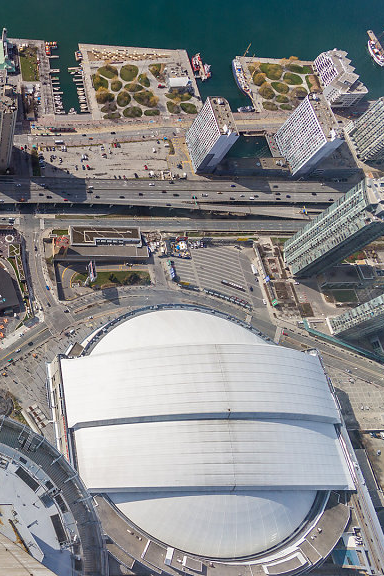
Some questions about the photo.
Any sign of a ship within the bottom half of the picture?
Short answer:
No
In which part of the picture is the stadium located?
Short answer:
bottom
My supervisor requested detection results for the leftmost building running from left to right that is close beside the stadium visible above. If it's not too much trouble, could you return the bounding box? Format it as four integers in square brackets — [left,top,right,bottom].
[53,225,149,262]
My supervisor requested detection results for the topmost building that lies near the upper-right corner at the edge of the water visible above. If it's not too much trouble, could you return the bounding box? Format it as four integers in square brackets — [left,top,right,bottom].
[297,49,368,117]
